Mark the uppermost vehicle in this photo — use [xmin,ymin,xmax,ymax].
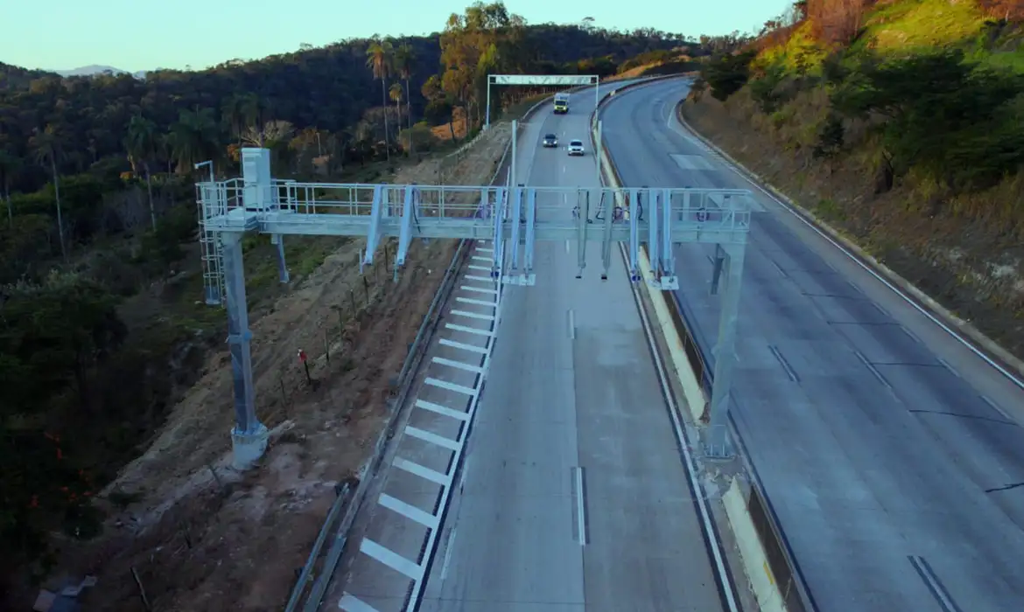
[554,91,571,112]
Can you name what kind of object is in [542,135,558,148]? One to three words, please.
vehicle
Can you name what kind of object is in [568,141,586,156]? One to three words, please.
car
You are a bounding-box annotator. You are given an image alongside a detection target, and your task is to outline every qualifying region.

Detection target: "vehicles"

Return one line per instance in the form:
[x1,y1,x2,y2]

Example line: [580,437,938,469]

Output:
[554,91,571,112]
[542,135,558,148]
[568,141,586,156]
